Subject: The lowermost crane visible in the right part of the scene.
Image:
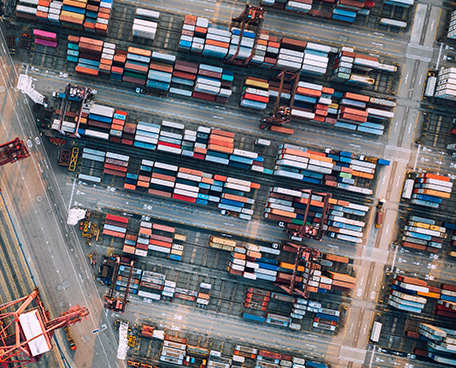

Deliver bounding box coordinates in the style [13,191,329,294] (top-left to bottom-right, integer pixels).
[273,240,317,295]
